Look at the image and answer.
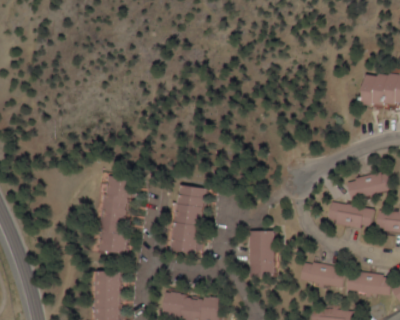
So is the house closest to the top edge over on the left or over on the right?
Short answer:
right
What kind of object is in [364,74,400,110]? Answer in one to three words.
house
